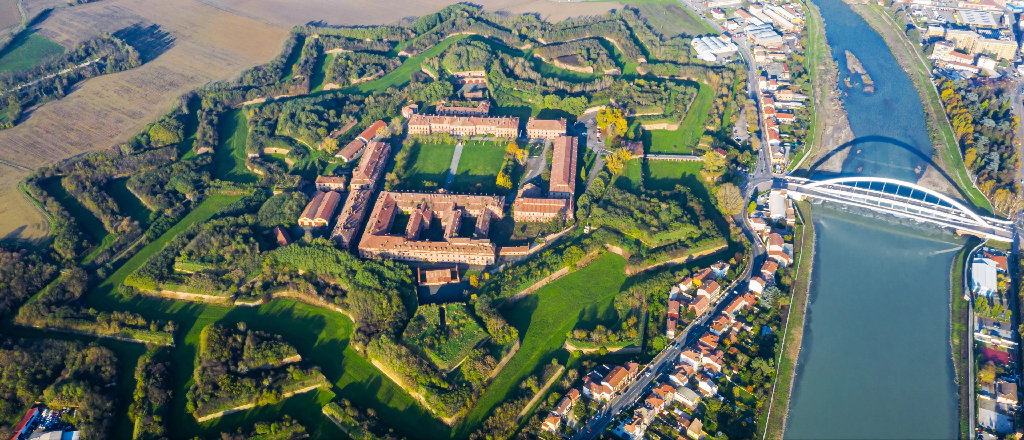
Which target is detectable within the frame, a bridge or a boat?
bridge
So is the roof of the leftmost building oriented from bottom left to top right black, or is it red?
red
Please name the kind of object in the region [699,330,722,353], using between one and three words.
house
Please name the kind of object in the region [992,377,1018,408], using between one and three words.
house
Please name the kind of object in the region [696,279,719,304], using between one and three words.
building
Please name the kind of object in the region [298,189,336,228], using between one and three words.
shed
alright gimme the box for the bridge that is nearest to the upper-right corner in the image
[772,171,1013,242]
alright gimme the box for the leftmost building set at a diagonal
[11,406,40,440]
